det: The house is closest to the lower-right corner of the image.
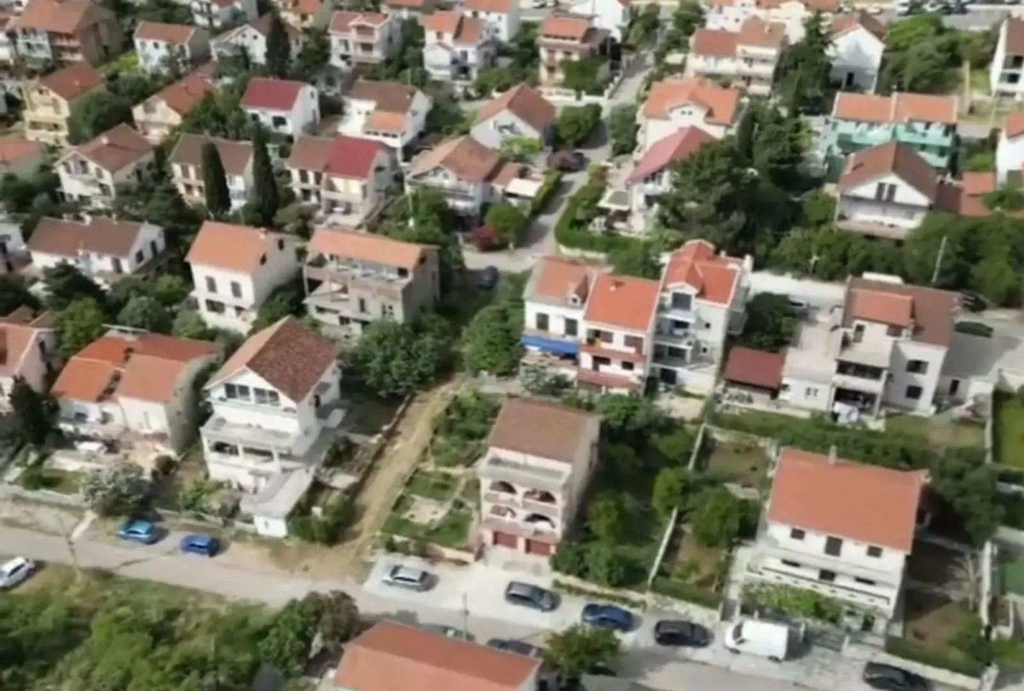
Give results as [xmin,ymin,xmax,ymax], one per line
[755,449,919,634]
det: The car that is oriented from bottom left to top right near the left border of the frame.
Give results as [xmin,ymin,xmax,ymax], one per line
[0,555,43,591]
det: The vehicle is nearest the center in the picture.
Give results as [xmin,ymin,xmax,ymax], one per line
[478,265,499,289]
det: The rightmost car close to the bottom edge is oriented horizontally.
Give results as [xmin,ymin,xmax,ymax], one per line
[863,662,924,691]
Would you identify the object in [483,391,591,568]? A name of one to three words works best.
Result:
house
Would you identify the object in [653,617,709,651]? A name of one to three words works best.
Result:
car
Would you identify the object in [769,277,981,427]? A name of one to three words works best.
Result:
house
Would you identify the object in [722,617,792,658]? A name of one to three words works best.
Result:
van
